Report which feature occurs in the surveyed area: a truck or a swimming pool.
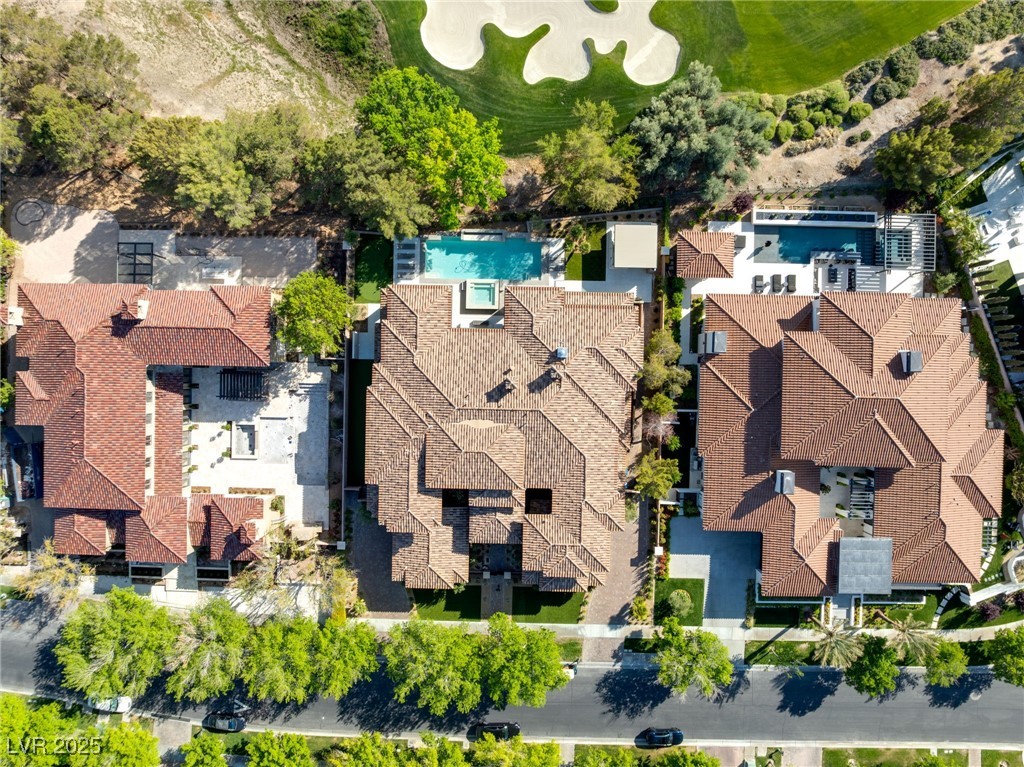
swimming pool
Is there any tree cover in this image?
Yes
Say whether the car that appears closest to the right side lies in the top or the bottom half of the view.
bottom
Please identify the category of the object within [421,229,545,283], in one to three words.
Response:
swimming pool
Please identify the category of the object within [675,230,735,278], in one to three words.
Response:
building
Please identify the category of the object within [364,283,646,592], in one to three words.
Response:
house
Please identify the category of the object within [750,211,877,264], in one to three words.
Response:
swimming pool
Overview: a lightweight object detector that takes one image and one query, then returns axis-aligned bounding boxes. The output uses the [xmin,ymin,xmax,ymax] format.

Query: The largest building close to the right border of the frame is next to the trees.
[691,291,1005,598]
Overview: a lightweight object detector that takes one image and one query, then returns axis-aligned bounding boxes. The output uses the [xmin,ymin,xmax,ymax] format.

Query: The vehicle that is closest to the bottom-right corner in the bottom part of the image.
[642,725,686,749]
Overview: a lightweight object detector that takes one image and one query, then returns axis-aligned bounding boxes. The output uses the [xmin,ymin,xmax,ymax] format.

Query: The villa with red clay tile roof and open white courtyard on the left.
[8,283,286,564]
